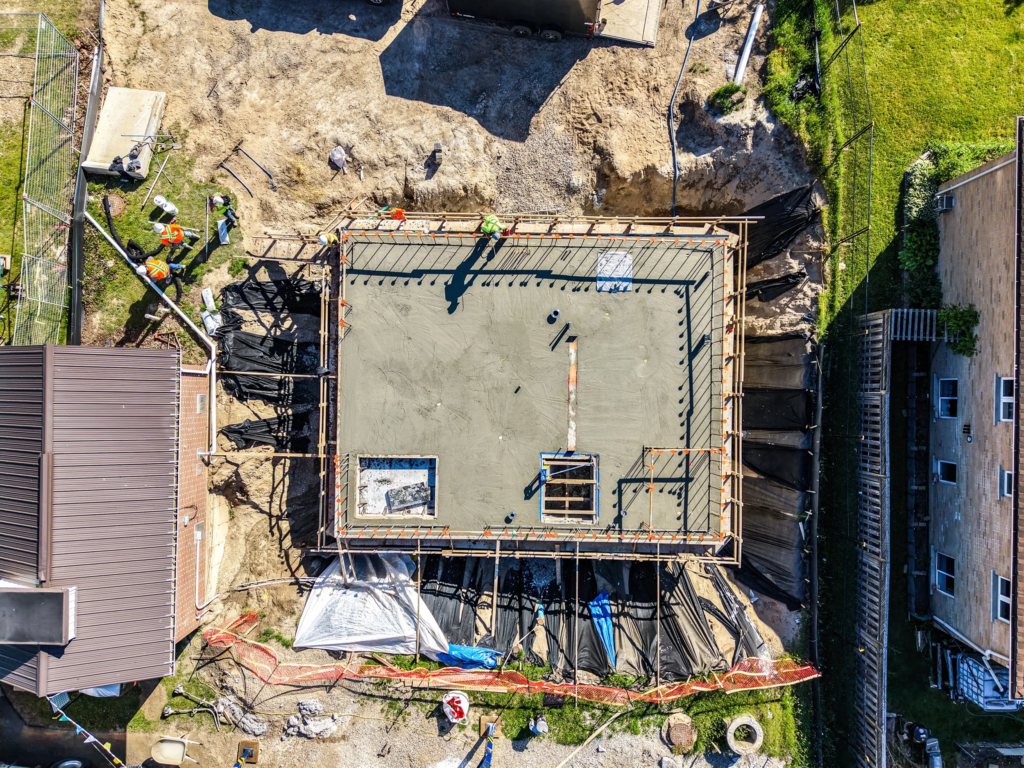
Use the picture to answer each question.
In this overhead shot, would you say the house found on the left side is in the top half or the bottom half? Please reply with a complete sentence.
You can find the house found on the left side in the bottom half.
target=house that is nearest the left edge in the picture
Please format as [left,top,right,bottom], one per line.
[0,346,236,706]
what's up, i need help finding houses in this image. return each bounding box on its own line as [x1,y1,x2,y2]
[0,346,236,706]
[929,114,1024,702]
